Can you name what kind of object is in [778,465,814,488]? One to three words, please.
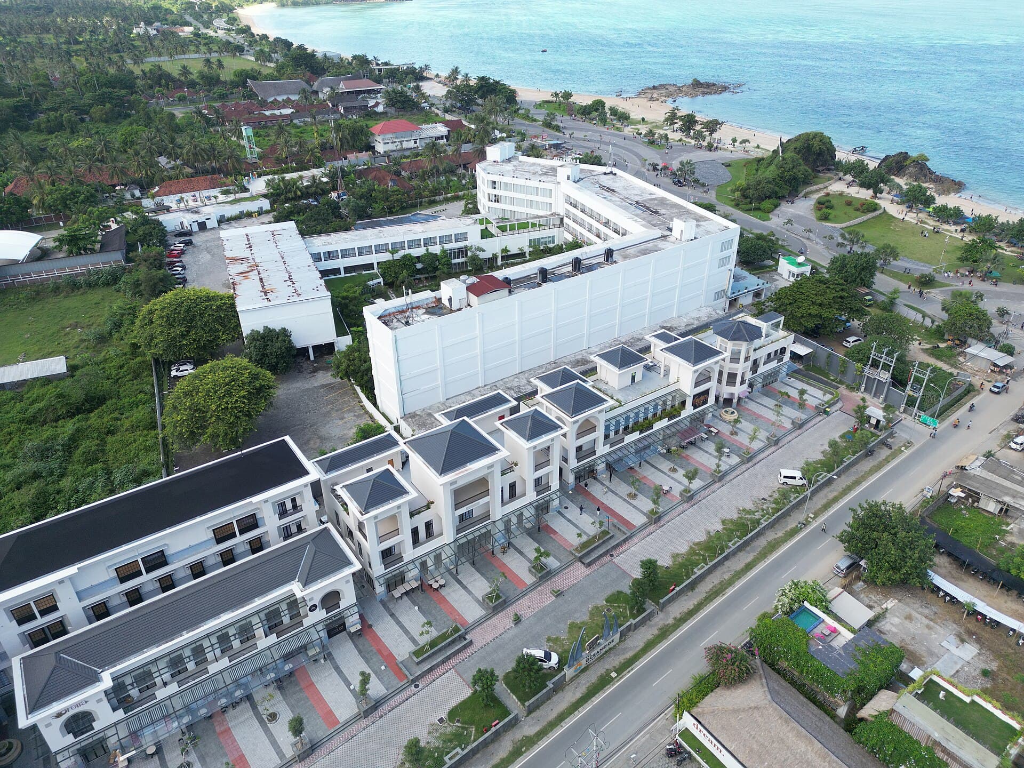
vehicle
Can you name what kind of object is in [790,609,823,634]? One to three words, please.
swimming pool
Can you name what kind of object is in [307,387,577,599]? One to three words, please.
building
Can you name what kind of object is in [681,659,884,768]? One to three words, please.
house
